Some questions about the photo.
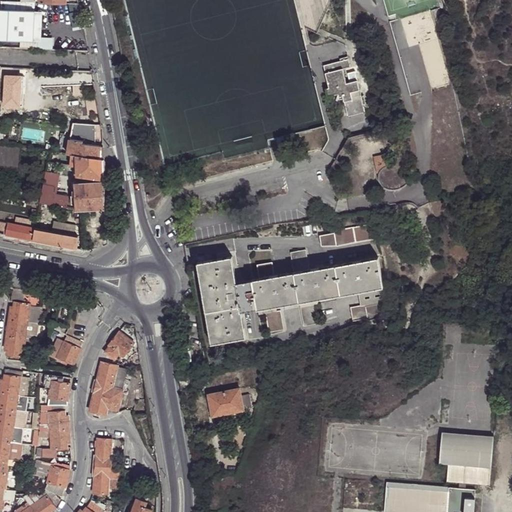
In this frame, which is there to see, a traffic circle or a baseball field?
traffic circle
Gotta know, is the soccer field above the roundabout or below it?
above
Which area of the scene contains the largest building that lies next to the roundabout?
center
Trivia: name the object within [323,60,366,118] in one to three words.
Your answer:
building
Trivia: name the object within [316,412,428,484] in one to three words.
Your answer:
sports court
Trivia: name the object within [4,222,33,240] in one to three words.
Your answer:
house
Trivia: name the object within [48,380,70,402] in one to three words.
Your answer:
house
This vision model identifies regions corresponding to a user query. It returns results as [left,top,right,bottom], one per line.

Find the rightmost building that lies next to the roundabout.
[196,259,383,346]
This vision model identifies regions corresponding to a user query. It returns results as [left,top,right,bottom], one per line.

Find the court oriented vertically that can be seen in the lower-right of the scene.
[452,348,492,426]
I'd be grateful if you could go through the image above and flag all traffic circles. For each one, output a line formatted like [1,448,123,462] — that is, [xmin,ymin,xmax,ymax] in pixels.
[119,256,182,319]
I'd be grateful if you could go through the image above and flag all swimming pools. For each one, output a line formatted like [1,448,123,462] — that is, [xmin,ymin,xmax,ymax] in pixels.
[20,127,48,144]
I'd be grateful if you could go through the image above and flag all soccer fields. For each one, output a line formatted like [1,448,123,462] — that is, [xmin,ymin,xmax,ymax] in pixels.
[126,0,324,158]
